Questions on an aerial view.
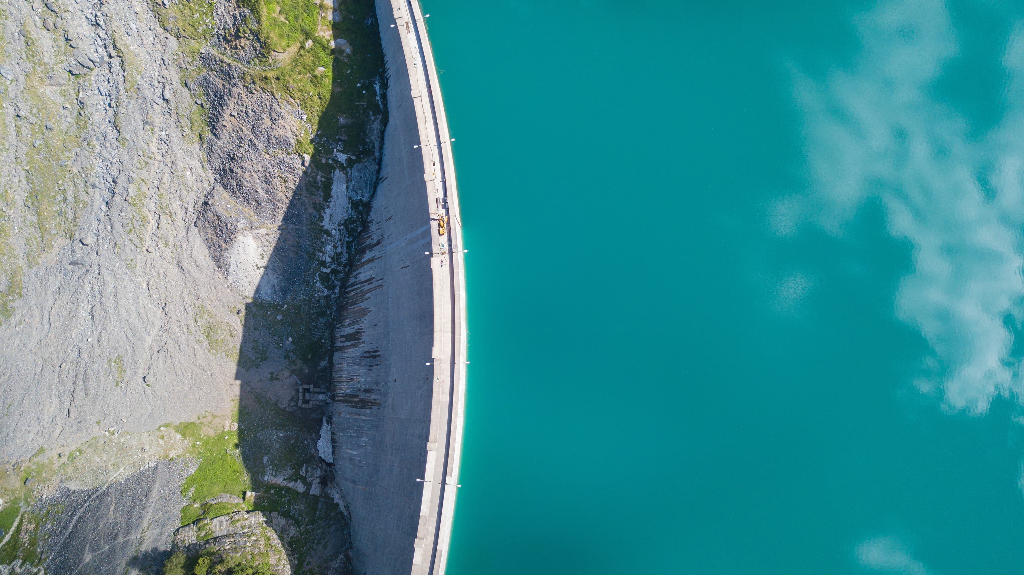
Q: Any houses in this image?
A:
No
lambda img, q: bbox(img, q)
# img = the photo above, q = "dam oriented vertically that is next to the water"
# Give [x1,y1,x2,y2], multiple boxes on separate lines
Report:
[328,0,465,575]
